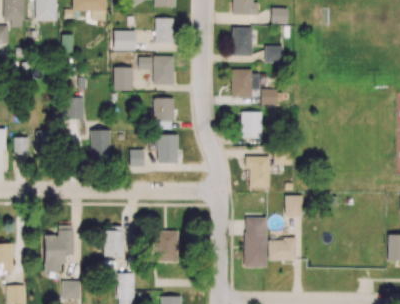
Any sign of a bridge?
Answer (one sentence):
No, the picture doesn't show any bridge.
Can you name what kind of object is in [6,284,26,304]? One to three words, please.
building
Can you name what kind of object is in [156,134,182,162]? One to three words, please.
house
